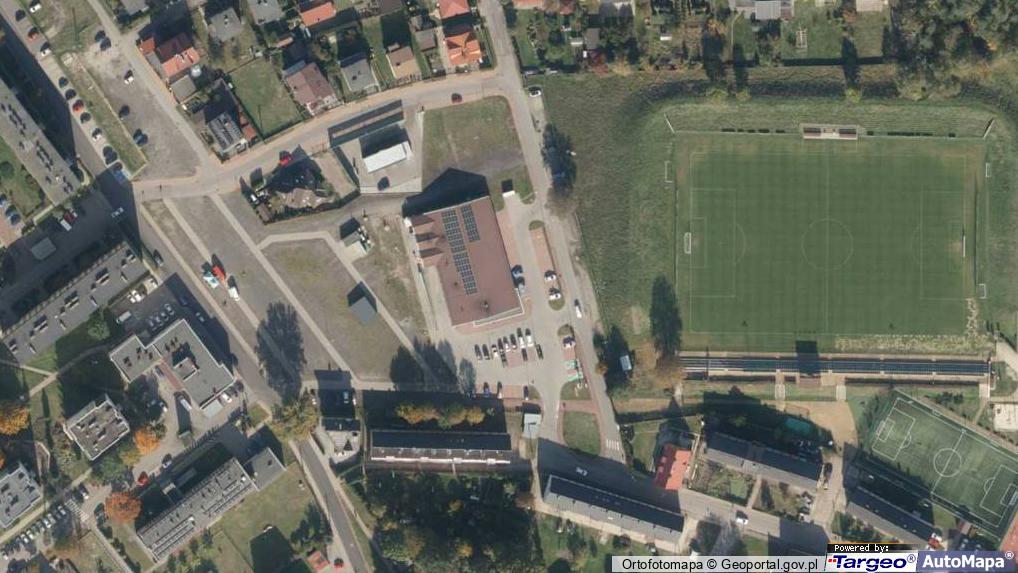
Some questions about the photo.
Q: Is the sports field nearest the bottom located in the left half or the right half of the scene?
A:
right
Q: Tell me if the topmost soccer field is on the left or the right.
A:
right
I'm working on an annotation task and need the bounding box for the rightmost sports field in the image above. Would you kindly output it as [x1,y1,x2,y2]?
[859,389,1018,533]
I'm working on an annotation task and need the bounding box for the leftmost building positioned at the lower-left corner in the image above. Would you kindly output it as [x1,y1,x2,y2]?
[0,463,42,531]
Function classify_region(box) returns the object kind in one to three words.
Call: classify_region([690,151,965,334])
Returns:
soccer field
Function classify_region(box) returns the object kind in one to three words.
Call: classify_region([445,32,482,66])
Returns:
house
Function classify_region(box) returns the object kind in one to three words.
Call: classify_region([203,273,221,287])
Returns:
vehicle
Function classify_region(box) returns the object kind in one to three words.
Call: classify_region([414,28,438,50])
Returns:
building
